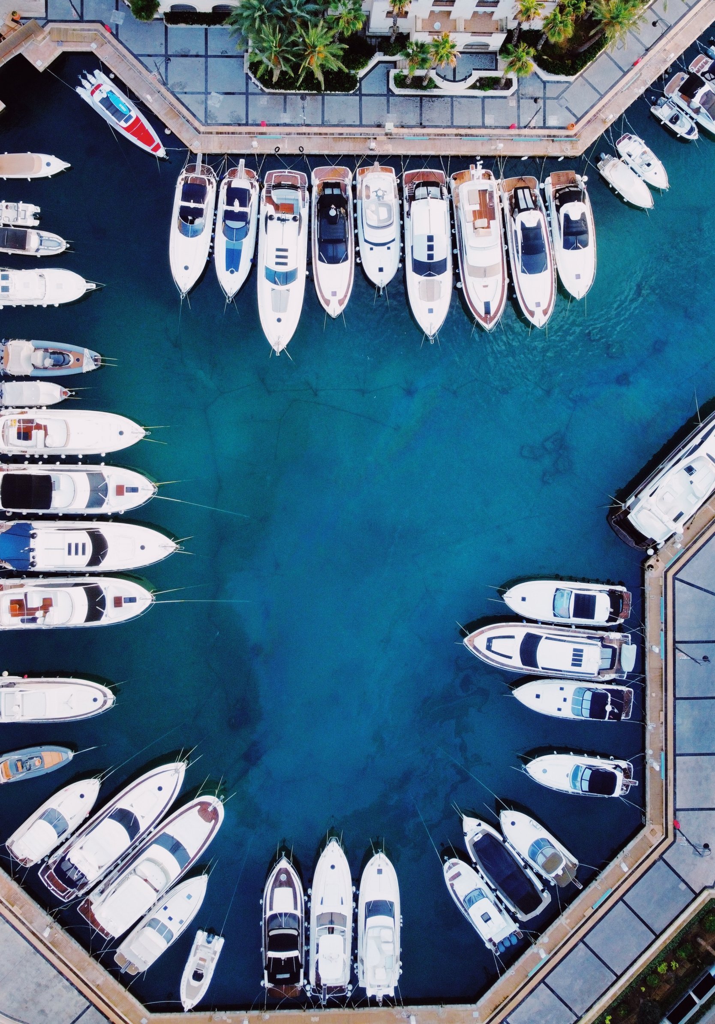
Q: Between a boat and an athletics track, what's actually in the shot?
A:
boat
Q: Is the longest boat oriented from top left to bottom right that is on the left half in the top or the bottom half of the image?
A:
top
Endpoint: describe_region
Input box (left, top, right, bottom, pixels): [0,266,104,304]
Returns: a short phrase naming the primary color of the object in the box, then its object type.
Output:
white boat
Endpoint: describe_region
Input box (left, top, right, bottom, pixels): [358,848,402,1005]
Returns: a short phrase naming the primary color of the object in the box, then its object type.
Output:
white boat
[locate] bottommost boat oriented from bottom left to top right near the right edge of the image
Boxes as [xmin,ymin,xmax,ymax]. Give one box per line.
[600,405,715,556]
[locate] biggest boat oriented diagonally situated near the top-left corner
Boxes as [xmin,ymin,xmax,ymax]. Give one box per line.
[74,66,170,159]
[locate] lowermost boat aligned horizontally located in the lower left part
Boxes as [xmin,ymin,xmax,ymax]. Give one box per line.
[0,747,76,784]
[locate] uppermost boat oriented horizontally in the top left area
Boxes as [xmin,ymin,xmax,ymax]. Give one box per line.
[0,152,75,179]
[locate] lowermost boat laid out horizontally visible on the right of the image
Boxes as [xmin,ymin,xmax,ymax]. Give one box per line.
[519,752,638,800]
